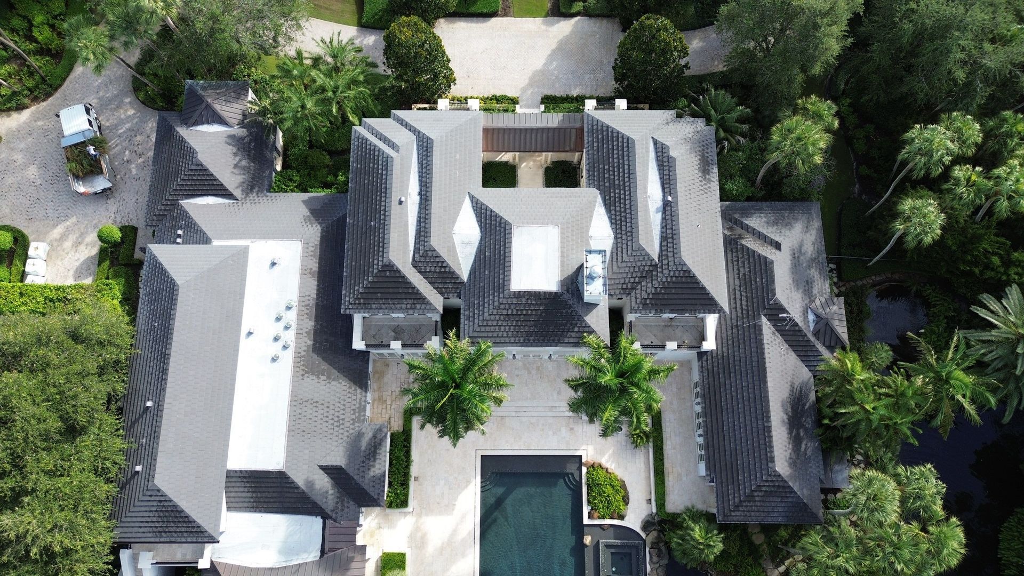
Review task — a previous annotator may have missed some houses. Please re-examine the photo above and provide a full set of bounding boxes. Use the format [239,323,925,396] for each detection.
[109,79,848,576]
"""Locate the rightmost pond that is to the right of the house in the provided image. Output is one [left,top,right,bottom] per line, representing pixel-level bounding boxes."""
[858,282,1024,576]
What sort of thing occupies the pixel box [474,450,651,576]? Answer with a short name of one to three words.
swimming pool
